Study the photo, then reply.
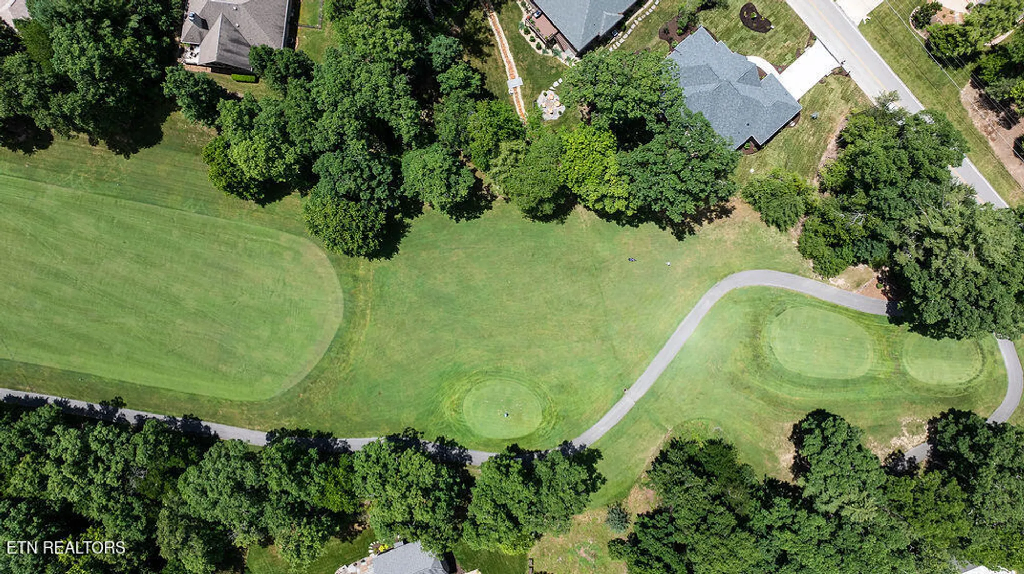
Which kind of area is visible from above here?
golf course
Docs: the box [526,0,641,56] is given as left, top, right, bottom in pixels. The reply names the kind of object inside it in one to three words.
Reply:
house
